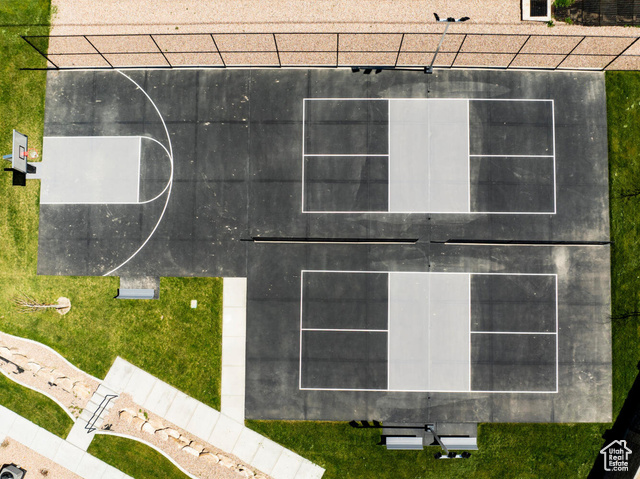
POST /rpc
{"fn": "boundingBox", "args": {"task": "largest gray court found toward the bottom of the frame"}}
[245,241,612,423]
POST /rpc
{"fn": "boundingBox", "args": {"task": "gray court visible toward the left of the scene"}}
[37,68,248,278]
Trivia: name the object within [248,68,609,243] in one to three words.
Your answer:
sports court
